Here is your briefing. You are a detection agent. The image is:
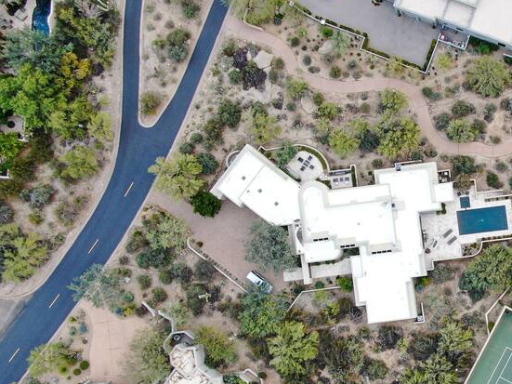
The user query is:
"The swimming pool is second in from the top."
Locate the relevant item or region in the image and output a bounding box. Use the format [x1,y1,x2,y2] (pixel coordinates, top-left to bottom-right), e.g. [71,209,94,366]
[459,194,472,211]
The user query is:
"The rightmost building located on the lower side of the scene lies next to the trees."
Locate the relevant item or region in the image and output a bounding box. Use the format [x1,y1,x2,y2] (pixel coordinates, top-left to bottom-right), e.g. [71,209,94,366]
[210,144,455,324]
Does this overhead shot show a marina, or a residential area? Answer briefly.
residential area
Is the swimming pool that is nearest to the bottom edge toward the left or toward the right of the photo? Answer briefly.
right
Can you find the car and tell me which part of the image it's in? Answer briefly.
bottom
